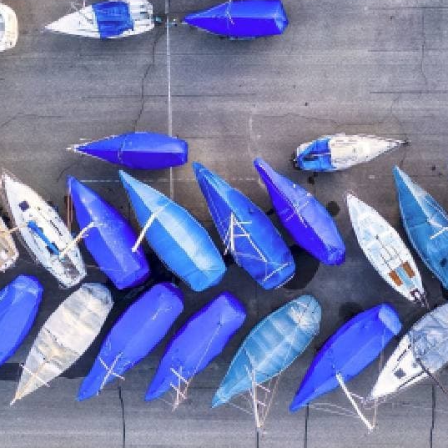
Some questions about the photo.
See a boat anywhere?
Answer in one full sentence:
Yes, there's a boat here.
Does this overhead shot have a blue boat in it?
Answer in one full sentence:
Yes, I can see a blue boat in this picture.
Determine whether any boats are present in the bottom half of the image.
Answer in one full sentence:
Yes, a boat can be seen in the bottom half of the image.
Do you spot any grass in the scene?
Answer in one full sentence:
No, the picture contains no grass.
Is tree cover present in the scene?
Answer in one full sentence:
No, there is no tree cover in the image.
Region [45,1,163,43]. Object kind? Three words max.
boat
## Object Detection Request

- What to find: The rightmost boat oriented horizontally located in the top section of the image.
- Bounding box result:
[289,131,407,171]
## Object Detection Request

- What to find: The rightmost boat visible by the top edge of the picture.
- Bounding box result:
[183,0,289,39]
